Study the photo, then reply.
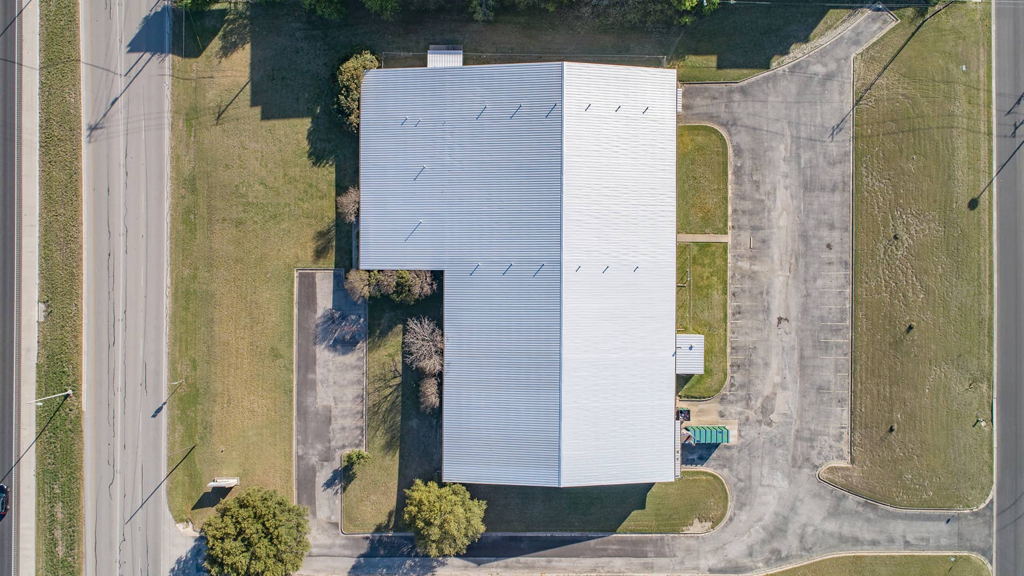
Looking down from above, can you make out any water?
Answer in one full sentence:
No, the scene doesn't show any water.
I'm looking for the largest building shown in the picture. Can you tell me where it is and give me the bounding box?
[360,50,704,488]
